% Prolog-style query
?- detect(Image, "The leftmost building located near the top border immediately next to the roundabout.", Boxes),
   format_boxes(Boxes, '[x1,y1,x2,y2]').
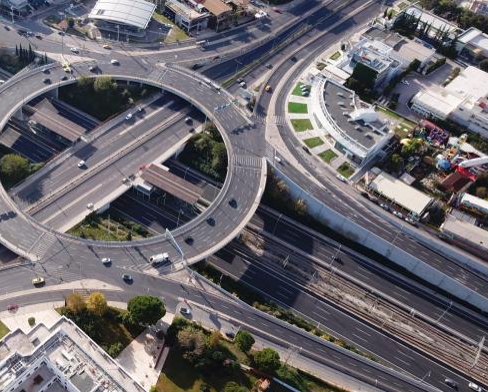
[88,0,156,41]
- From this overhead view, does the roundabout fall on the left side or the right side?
left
